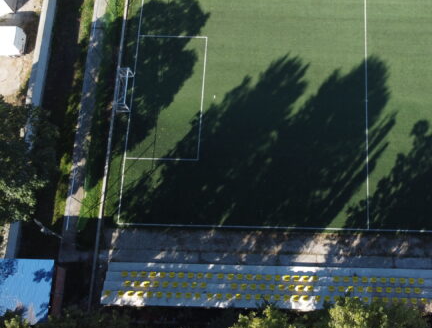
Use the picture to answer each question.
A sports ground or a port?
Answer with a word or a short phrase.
sports ground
